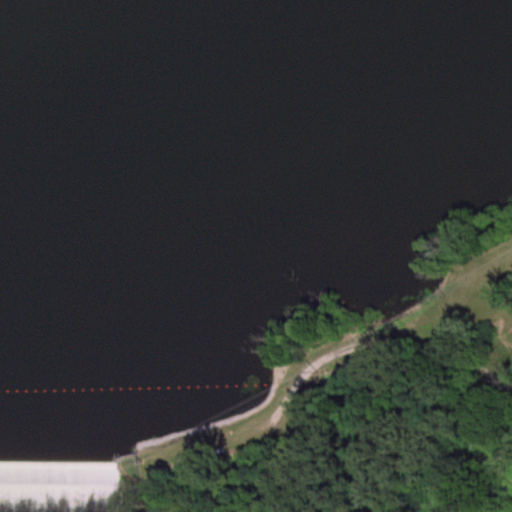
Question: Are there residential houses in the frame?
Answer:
No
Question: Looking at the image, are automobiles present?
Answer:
No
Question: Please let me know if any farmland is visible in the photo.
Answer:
No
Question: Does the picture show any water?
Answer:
Yes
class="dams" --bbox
[0,460,118,512]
